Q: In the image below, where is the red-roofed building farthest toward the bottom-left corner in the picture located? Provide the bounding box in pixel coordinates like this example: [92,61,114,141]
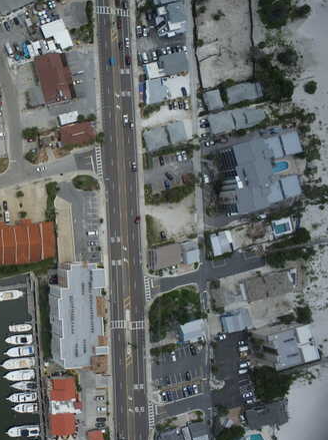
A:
[50,412,76,435]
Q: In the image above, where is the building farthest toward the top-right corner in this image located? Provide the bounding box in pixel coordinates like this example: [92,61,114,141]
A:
[225,82,263,104]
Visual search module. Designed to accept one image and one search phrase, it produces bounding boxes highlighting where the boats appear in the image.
[11,382,37,393]
[1,359,35,370]
[6,426,40,437]
[6,393,38,403]
[4,372,36,382]
[4,335,33,345]
[0,290,22,300]
[8,325,32,331]
[12,405,39,413]
[6,347,34,356]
